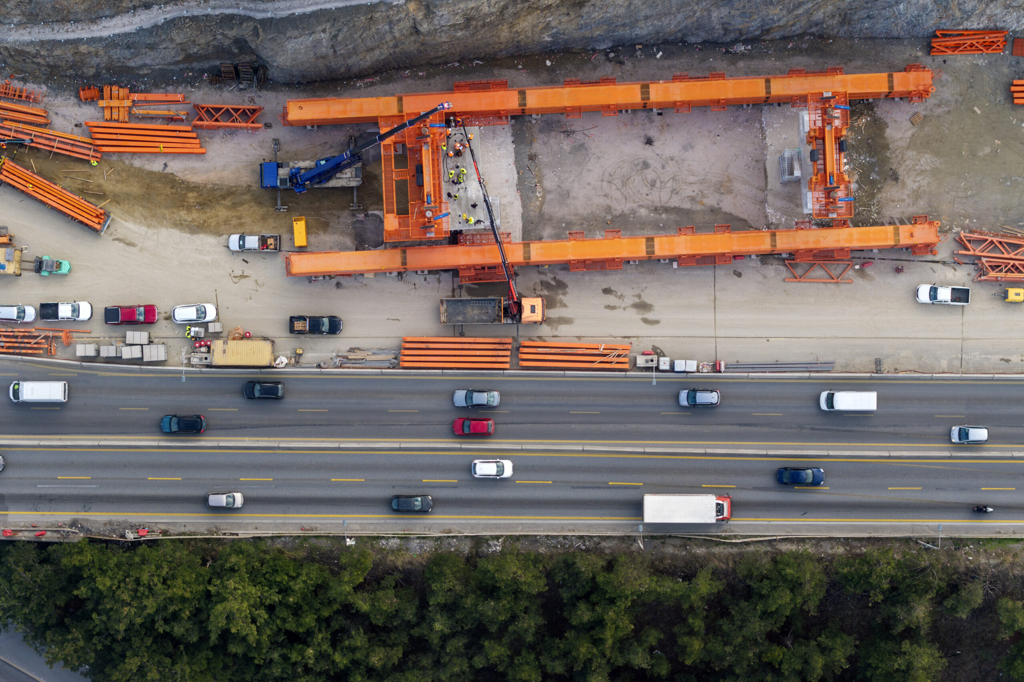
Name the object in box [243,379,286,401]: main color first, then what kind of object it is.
black car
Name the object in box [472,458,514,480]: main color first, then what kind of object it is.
white car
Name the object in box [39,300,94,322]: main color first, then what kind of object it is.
white truck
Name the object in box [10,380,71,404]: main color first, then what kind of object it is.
white vehicle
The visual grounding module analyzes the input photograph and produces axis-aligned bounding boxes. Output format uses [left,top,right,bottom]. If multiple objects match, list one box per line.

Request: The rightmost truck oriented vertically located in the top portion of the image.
[441,120,546,350]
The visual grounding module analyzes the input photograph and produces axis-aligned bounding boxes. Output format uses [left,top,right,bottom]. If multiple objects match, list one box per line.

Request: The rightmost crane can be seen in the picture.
[261,101,454,212]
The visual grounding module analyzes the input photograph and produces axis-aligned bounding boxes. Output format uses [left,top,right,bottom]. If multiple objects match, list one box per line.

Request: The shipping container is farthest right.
[211,340,275,366]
